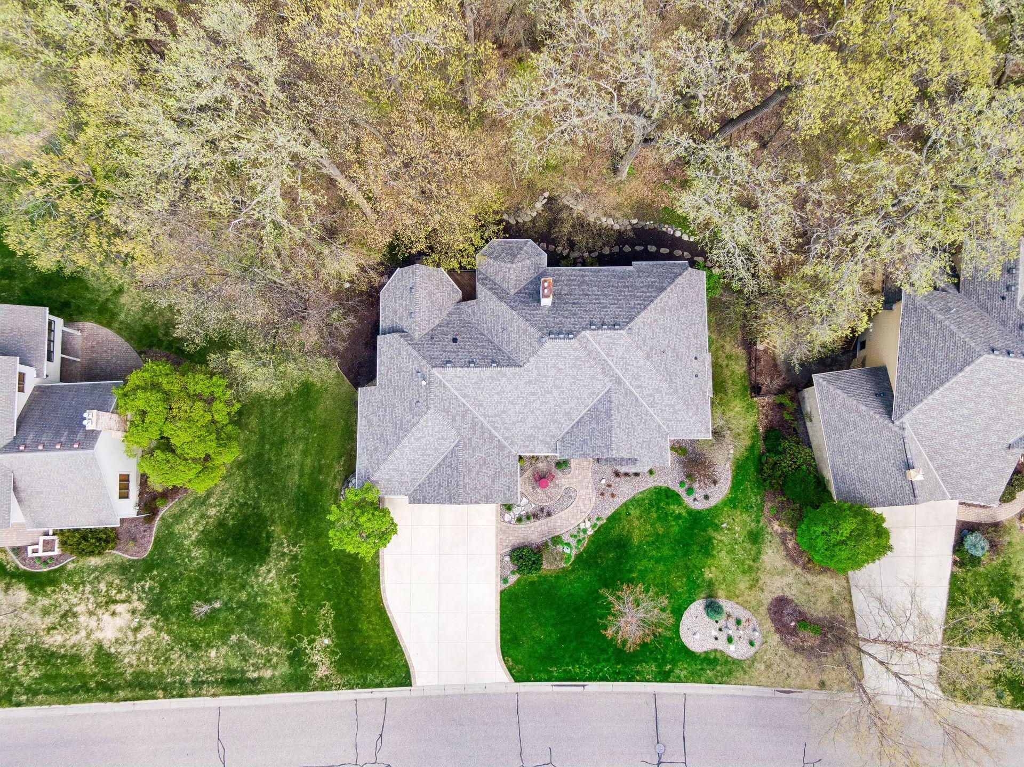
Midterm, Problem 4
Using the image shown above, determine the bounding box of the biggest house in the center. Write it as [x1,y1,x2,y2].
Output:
[355,238,714,504]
